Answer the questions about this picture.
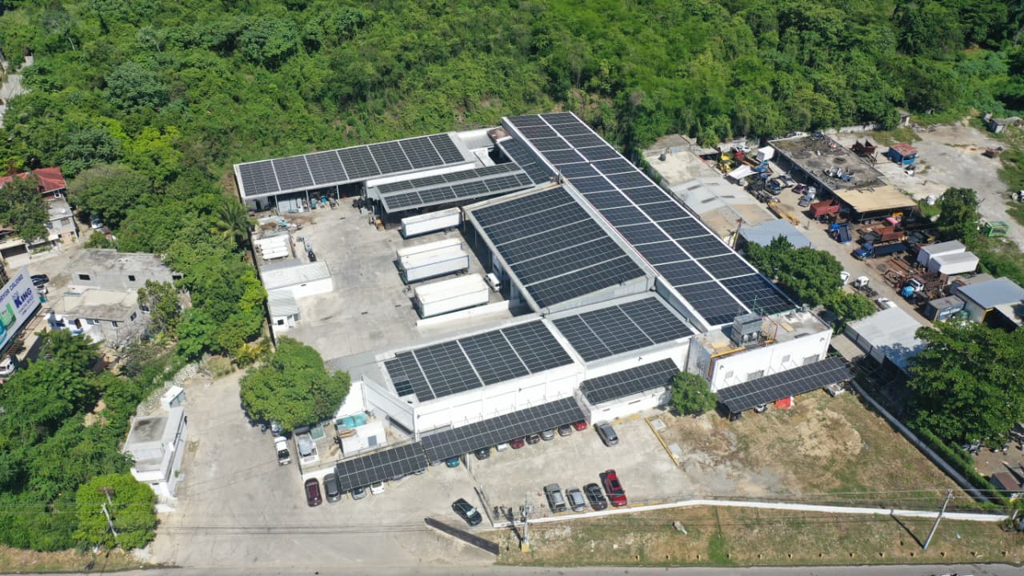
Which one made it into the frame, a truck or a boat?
truck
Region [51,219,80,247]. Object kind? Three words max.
house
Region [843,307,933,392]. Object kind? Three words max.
shed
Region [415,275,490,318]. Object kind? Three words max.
trailer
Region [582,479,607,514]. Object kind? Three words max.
car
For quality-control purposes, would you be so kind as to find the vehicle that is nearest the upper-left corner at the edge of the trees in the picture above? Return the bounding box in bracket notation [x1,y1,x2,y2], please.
[88,211,103,229]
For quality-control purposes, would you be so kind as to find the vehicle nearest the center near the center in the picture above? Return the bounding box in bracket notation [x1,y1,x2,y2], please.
[484,271,505,291]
